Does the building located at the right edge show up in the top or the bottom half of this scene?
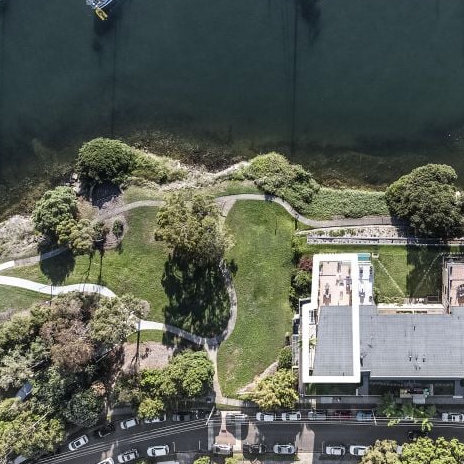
bottom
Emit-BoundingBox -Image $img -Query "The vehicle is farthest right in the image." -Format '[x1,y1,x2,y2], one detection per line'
[440,411,464,424]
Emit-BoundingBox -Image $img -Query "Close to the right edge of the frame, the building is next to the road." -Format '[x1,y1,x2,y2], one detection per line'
[300,252,464,395]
